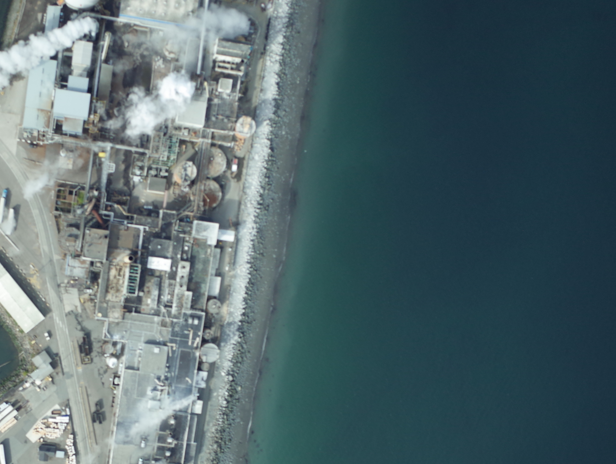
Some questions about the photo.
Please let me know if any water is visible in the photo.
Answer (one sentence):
Yes, the picture does contain water.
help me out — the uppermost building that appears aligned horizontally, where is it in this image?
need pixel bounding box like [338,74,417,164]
[119,0,199,33]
